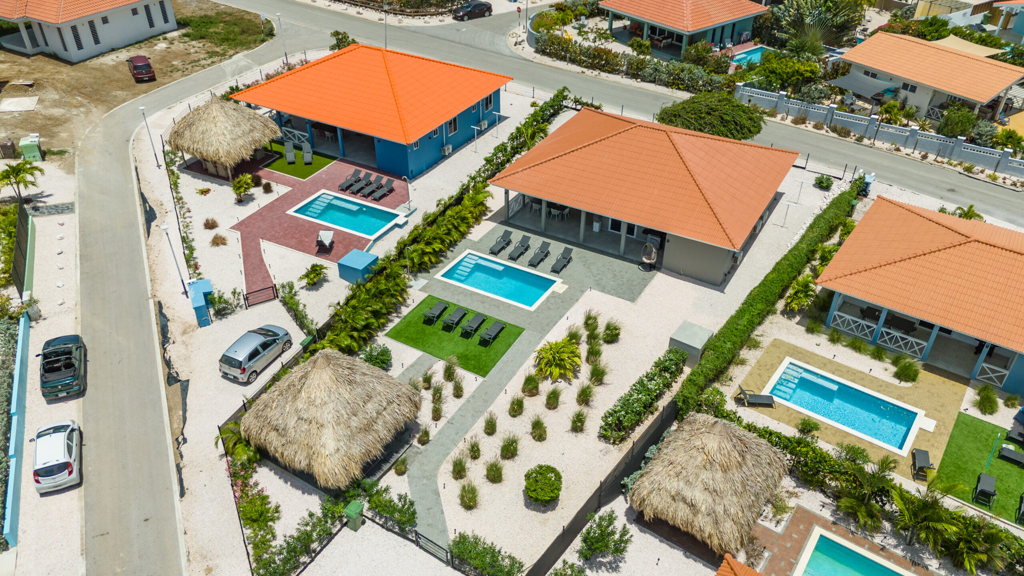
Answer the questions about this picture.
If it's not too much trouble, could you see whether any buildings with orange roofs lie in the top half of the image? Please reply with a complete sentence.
Yes, the scene does show a building with an orange roof in the top half of the image.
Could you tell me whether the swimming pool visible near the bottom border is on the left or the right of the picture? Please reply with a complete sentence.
It is on the right.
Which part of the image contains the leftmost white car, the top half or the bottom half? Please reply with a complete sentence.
You can find the leftmost white car in the bottom half.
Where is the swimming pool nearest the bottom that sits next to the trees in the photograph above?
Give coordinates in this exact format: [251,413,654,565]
[785,524,912,576]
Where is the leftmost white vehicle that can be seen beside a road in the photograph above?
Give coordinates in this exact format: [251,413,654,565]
[25,420,80,486]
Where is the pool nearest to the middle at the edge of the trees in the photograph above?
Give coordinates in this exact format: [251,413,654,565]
[435,249,561,311]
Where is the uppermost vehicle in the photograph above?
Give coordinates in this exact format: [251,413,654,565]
[453,1,492,19]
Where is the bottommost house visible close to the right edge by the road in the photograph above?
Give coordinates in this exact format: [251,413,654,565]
[814,194,1024,401]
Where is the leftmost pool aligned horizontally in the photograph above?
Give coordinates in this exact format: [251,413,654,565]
[286,189,413,246]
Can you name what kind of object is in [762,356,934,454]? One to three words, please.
swimming pool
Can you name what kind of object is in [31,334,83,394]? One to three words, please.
car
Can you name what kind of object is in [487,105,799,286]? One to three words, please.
house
